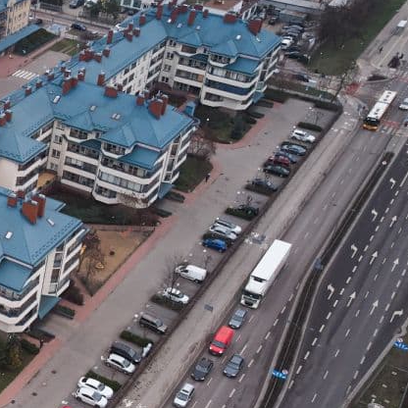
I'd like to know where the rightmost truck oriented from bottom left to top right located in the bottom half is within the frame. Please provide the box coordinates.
[244,237,299,305]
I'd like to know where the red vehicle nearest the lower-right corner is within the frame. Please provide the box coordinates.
[210,325,233,351]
